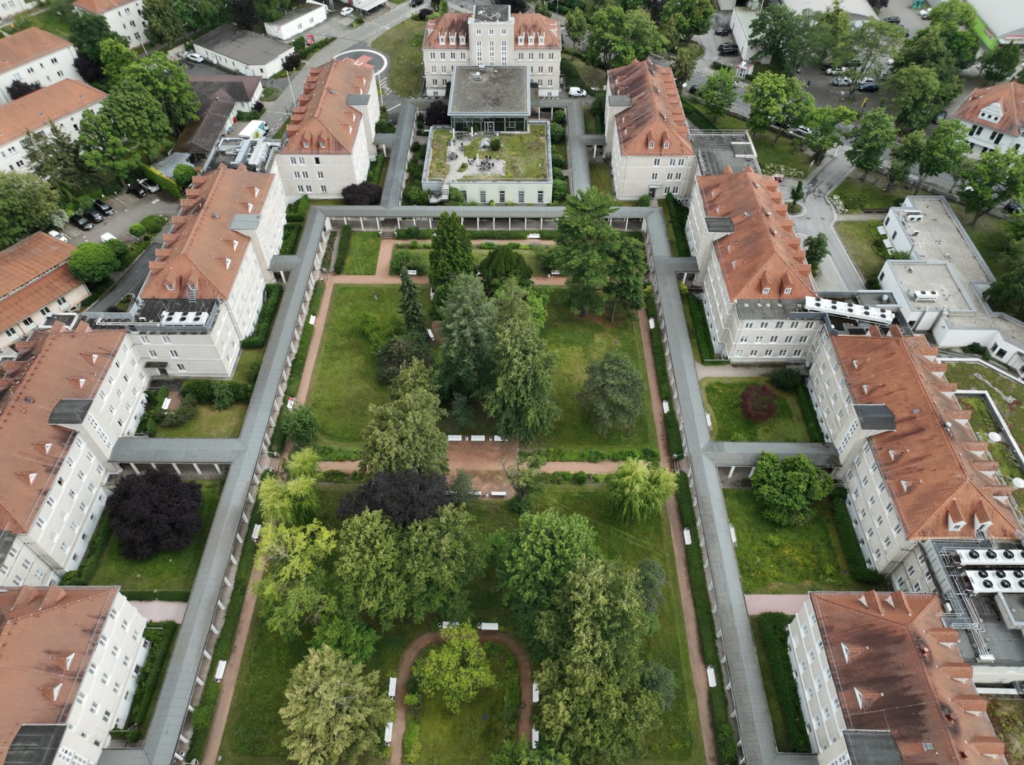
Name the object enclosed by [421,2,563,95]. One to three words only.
building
